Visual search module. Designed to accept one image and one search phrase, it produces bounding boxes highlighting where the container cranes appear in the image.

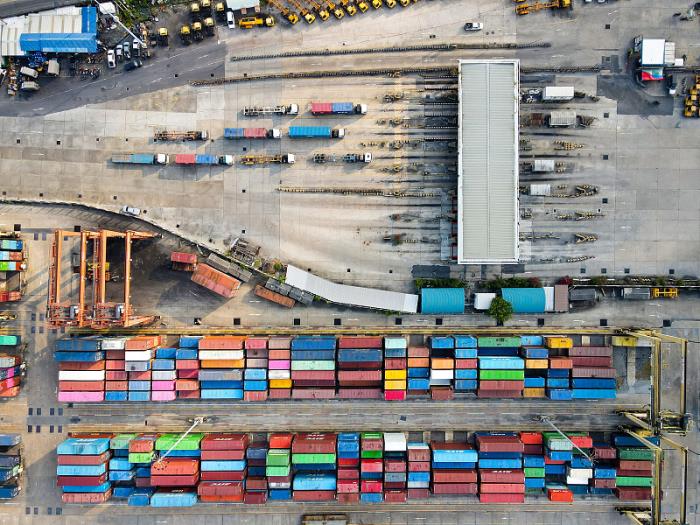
[617,423,695,525]
[617,326,695,435]
[93,227,167,330]
[49,227,126,330]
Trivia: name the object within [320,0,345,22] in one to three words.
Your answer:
truck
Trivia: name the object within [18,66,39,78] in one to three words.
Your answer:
vehicle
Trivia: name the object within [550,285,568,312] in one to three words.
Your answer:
shed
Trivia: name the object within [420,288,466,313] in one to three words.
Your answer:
shed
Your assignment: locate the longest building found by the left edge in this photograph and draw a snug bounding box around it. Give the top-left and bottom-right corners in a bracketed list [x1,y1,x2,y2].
[1,5,103,57]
